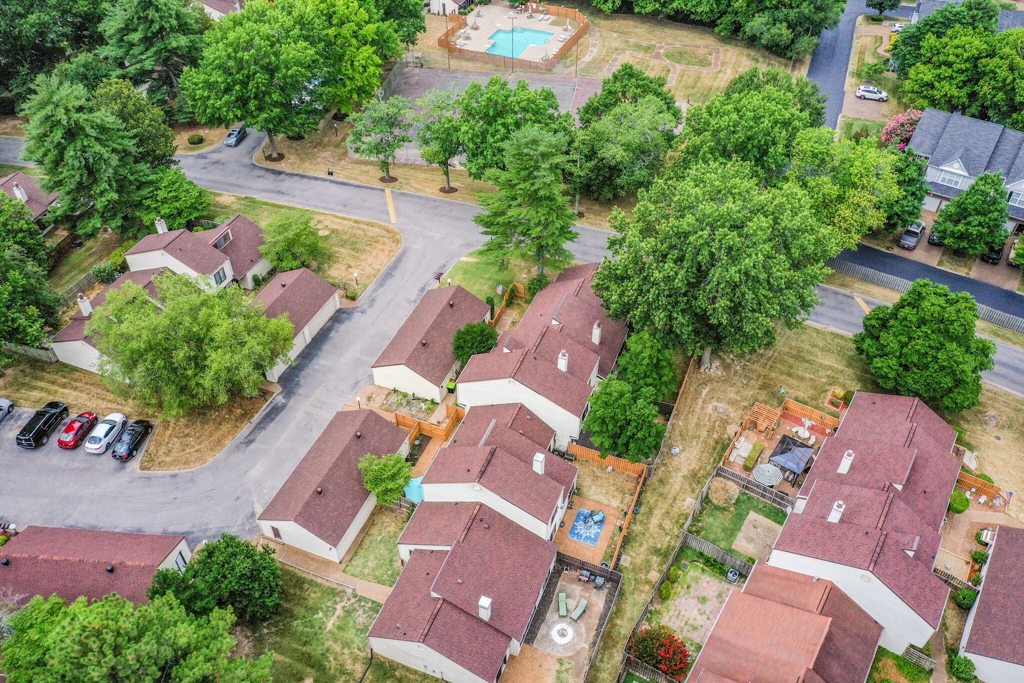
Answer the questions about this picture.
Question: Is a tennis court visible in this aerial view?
Yes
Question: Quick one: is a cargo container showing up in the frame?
No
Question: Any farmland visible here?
No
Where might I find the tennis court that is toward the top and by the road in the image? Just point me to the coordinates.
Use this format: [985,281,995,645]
[346,68,606,172]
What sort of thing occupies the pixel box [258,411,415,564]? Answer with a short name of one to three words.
building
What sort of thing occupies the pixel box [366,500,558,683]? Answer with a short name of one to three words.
house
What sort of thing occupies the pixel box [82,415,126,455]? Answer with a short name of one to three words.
car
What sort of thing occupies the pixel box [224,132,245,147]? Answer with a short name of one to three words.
car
